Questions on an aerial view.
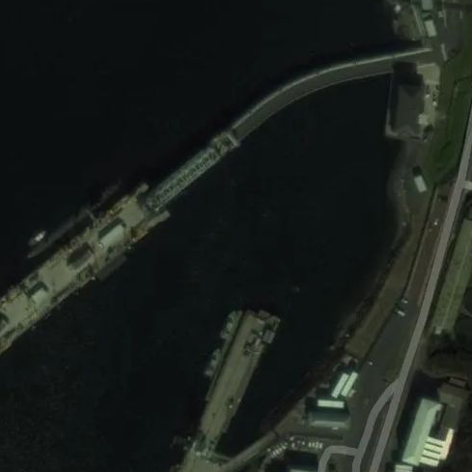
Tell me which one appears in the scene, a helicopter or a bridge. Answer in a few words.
bridge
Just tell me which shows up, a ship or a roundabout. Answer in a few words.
ship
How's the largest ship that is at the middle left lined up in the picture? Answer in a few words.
diagonally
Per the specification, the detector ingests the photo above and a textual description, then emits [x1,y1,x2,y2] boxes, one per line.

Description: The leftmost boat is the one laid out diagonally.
[27,229,47,245]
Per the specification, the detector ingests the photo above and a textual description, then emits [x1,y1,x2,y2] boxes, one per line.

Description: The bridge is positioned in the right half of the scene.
[230,48,431,139]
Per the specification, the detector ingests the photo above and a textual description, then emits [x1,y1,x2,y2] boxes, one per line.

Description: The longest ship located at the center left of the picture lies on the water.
[28,182,119,256]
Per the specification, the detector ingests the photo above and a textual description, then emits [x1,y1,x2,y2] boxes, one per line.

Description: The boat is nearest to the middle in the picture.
[221,310,238,339]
